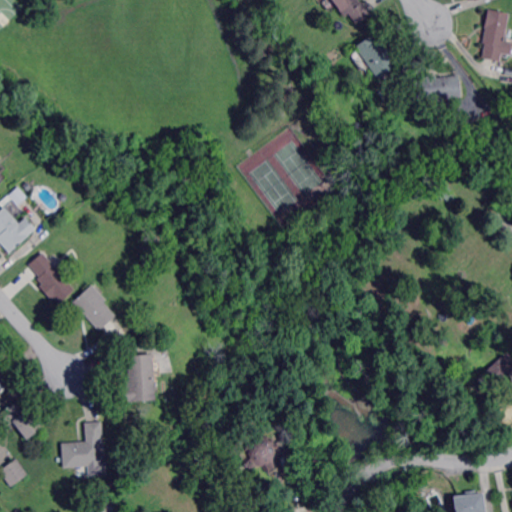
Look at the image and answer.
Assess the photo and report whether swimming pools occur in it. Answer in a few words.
Yes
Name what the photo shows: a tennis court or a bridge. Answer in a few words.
tennis court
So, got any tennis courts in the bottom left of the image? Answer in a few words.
No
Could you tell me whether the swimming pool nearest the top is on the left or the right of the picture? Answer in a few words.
left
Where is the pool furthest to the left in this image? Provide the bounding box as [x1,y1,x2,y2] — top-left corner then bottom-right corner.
[31,185,60,215]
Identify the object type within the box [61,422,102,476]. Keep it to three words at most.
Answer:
house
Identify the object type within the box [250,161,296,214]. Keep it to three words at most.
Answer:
tennis court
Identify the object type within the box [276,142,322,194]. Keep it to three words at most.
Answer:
tennis court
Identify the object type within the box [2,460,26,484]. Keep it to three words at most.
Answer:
building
